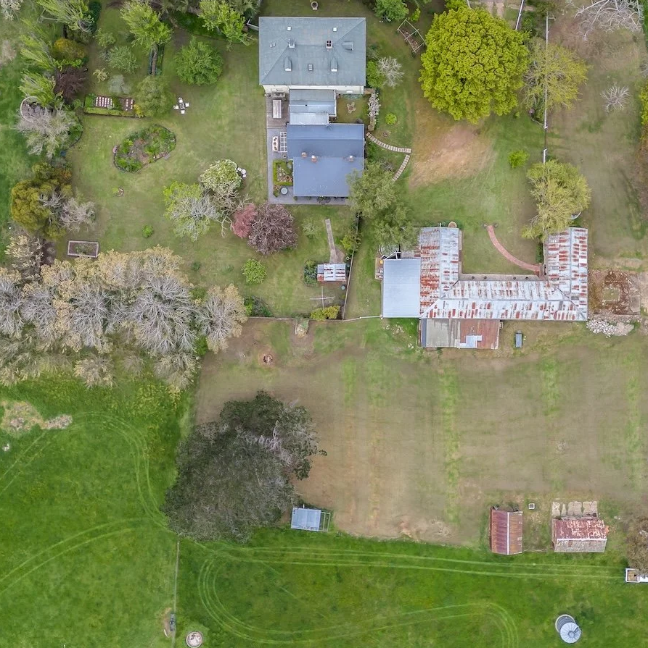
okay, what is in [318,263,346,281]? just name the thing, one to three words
shed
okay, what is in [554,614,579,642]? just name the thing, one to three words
water tank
